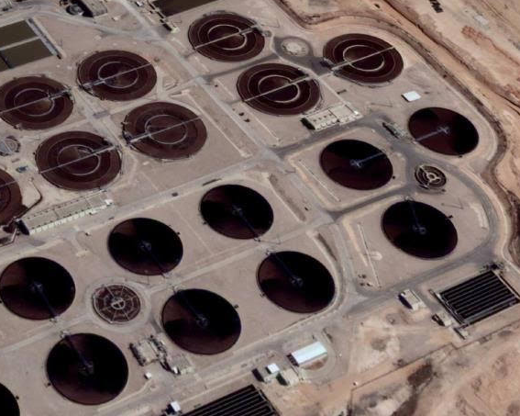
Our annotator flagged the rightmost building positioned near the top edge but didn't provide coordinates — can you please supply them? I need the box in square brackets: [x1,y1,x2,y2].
[77,0,107,23]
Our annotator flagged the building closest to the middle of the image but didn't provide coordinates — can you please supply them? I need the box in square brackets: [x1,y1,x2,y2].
[305,111,337,136]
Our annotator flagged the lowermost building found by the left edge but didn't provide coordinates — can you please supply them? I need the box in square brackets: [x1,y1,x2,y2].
[22,190,106,238]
